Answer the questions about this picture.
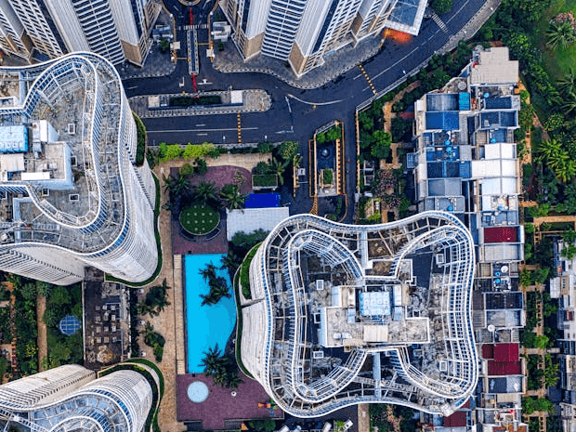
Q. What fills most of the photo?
buildings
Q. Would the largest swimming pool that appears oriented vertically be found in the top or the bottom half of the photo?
bottom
